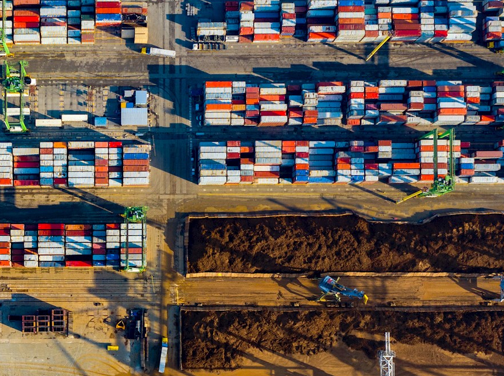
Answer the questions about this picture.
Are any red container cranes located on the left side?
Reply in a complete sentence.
No, on the left side there is no red container crane.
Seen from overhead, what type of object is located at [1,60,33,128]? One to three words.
container crane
